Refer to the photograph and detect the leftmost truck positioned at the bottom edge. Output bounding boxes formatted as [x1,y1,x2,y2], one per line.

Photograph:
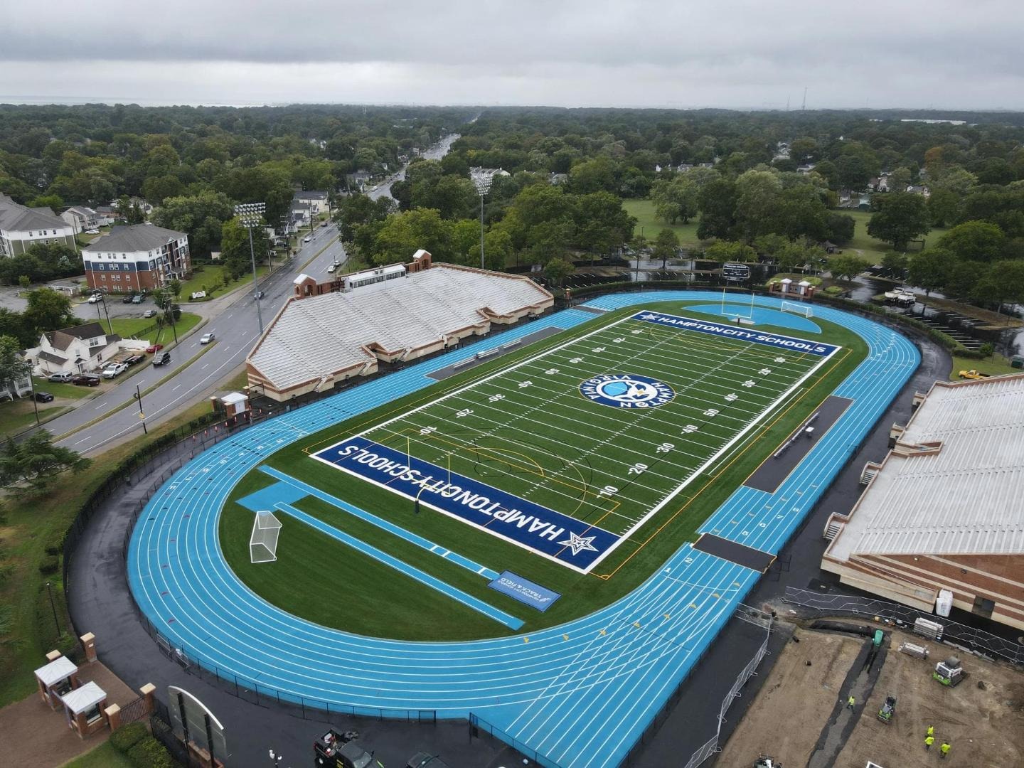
[312,726,380,768]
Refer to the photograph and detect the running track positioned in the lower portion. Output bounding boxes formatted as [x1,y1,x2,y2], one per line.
[131,291,920,768]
